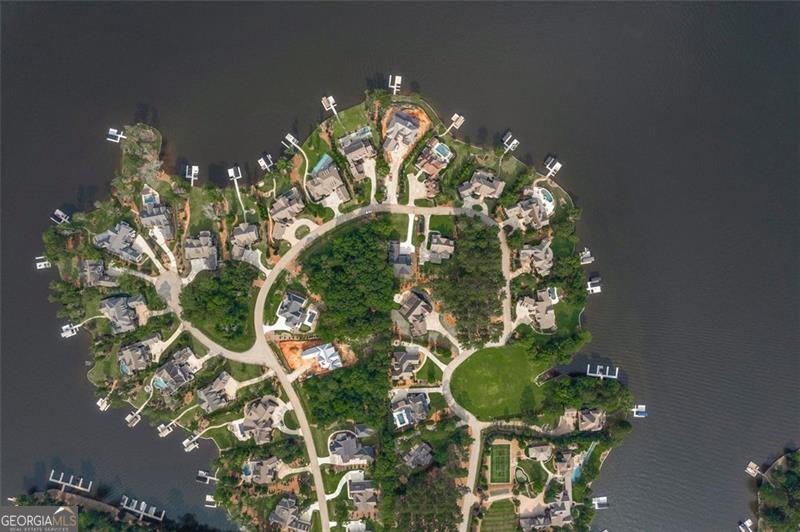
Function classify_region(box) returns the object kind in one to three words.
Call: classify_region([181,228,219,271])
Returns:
house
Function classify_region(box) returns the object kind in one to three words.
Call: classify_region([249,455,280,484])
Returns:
house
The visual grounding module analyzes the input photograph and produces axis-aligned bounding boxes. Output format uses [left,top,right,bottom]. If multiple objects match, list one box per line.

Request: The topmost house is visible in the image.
[380,108,421,152]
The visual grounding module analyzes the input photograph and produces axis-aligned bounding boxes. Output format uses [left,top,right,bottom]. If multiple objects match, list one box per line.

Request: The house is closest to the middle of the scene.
[388,239,412,277]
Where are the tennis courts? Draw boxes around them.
[489,443,512,484]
